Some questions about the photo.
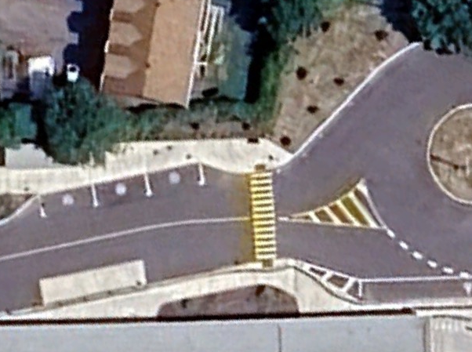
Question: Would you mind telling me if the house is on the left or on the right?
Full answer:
You can find the house on the left side of the picture.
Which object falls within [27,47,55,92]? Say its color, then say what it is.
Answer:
white camper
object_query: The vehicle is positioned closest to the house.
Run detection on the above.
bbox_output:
[66,60,80,83]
